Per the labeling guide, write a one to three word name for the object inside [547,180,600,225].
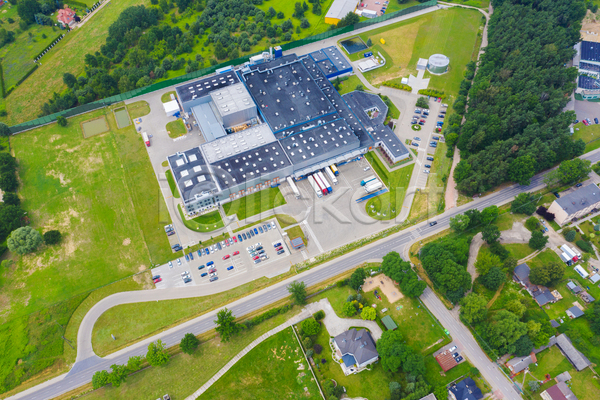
building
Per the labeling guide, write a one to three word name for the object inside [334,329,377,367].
house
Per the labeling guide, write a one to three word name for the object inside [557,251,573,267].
vehicle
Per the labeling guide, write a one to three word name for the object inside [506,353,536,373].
house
